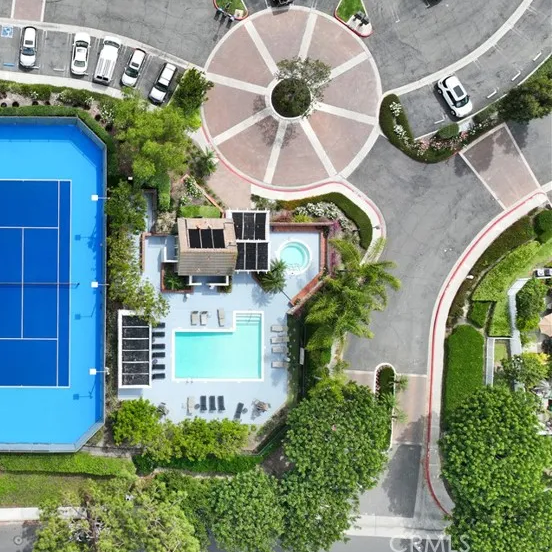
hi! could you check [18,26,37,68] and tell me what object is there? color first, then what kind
white car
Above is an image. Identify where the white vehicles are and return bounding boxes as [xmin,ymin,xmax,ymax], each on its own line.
[18,26,37,68]
[93,37,121,88]
[121,46,146,88]
[71,32,91,76]
[437,74,470,118]
[149,61,177,106]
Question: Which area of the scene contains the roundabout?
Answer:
top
